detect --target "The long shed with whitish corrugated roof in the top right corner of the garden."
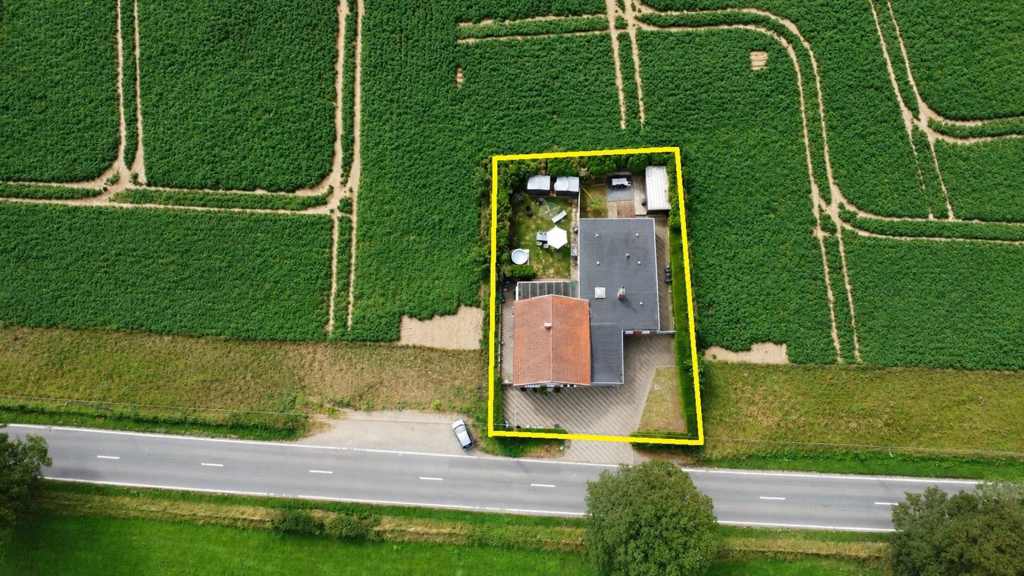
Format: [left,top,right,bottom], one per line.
[644,166,670,216]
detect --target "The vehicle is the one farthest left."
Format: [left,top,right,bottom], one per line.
[452,419,474,454]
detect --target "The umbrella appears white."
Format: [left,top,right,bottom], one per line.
[547,228,569,248]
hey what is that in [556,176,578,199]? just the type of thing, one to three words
shed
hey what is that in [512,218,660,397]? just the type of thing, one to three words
house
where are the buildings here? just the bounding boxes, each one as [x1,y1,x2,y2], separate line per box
[512,218,660,397]
[527,174,550,198]
[644,166,670,216]
[556,176,578,199]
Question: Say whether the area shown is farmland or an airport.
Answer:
farmland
